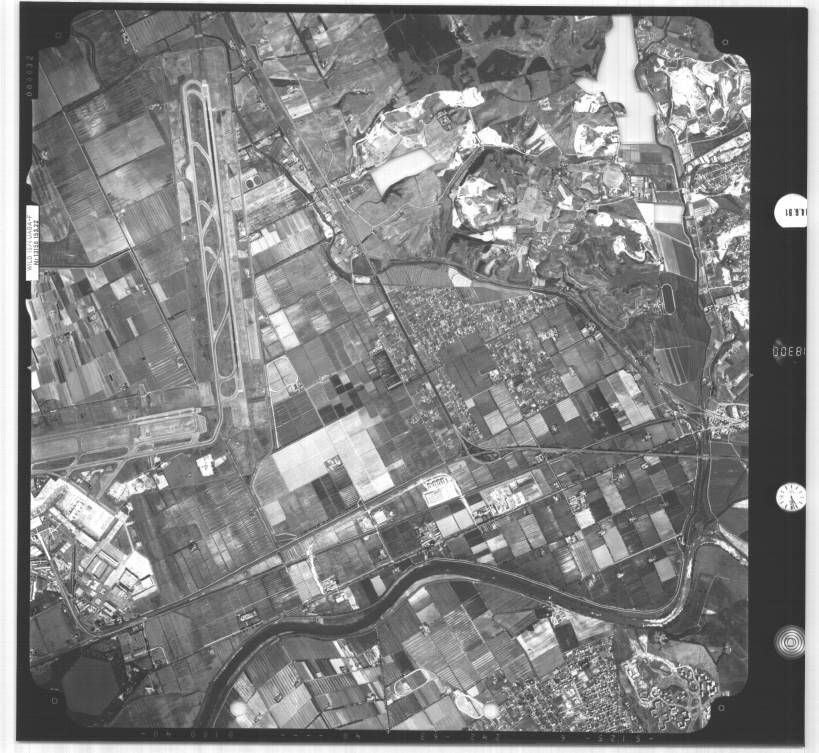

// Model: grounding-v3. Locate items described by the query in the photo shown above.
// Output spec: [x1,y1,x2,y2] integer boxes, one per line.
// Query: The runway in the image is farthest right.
[202,83,246,394]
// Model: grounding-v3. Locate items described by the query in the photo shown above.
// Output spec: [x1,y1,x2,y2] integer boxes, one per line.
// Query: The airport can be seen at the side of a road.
[0,79,270,601]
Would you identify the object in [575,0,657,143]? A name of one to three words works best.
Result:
pond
